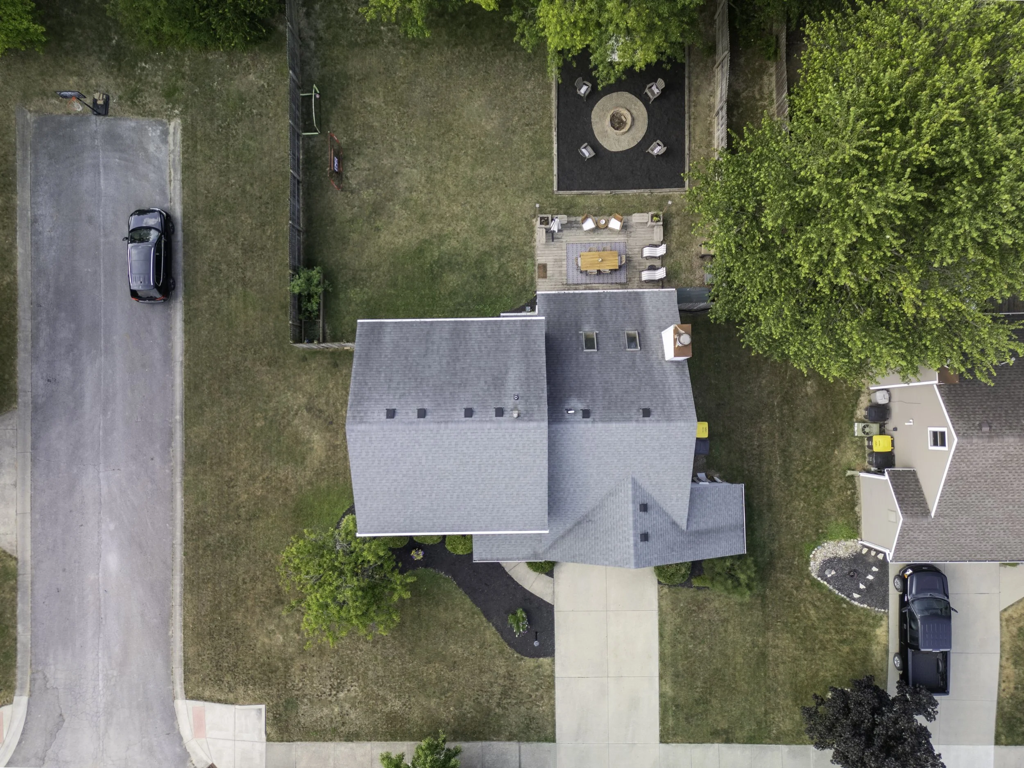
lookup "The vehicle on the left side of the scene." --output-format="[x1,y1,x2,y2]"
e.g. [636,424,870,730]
[121,207,177,303]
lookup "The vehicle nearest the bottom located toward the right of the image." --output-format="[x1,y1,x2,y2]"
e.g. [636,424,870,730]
[892,565,957,695]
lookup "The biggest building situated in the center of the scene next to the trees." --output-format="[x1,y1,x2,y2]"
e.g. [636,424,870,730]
[346,287,748,568]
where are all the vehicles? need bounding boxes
[892,565,957,695]
[121,207,177,303]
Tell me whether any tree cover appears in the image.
Yes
